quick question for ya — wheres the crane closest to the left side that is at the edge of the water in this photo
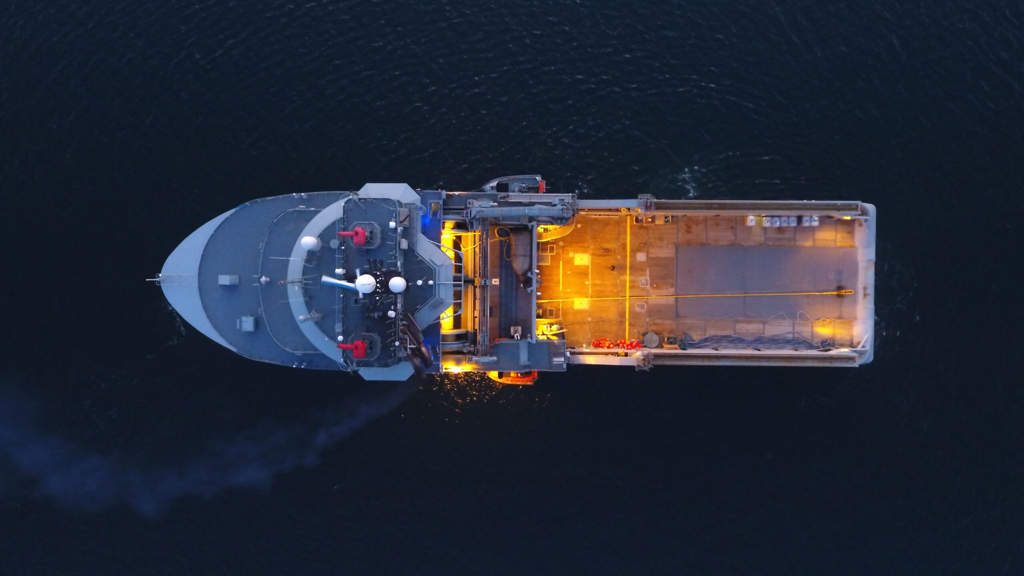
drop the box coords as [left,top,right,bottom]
[464,203,576,240]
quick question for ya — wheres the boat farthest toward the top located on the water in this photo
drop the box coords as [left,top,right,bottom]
[482,174,550,207]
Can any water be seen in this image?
Yes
